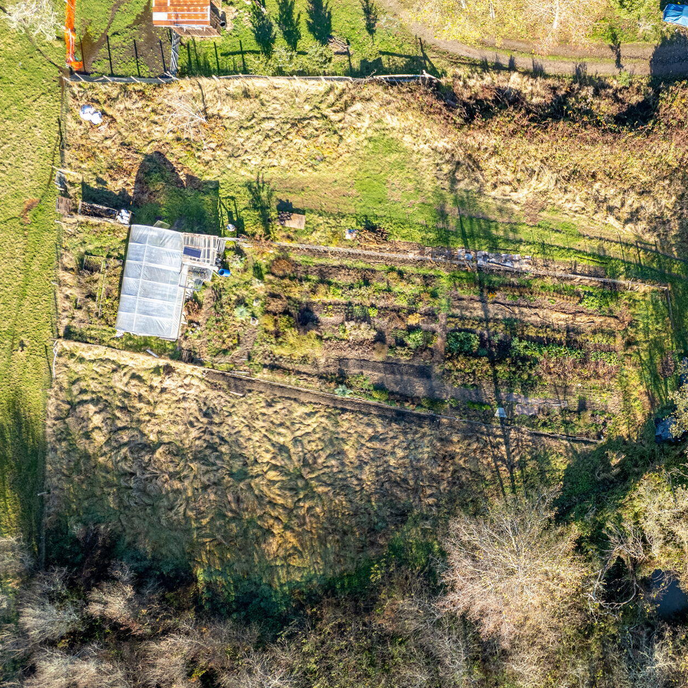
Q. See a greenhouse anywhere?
Yes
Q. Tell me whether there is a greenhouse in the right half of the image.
No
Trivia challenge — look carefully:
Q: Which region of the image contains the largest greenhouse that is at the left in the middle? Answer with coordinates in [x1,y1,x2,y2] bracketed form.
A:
[121,223,187,340]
